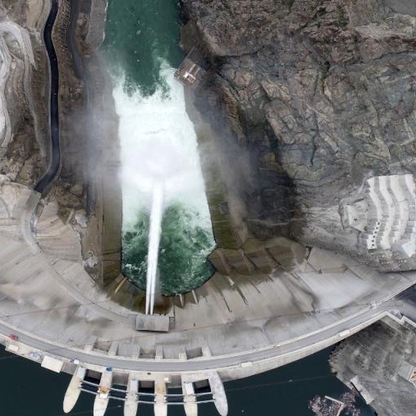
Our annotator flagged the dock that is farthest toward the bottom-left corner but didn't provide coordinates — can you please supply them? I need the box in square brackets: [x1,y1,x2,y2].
[65,366,90,414]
